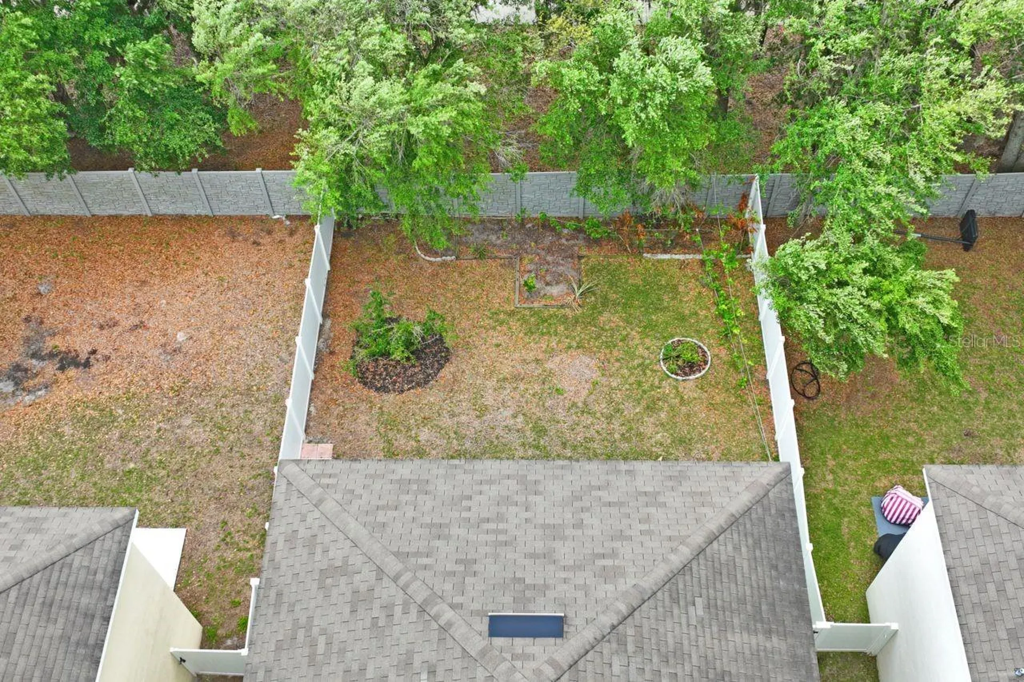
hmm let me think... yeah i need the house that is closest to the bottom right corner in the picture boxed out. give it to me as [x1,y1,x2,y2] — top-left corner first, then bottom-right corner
[867,462,1024,682]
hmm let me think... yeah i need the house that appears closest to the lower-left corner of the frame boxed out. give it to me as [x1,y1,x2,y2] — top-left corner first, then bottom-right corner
[0,505,198,682]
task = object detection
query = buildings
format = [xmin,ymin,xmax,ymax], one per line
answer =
[0,505,198,682]
[867,462,1024,682]
[243,457,822,682]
